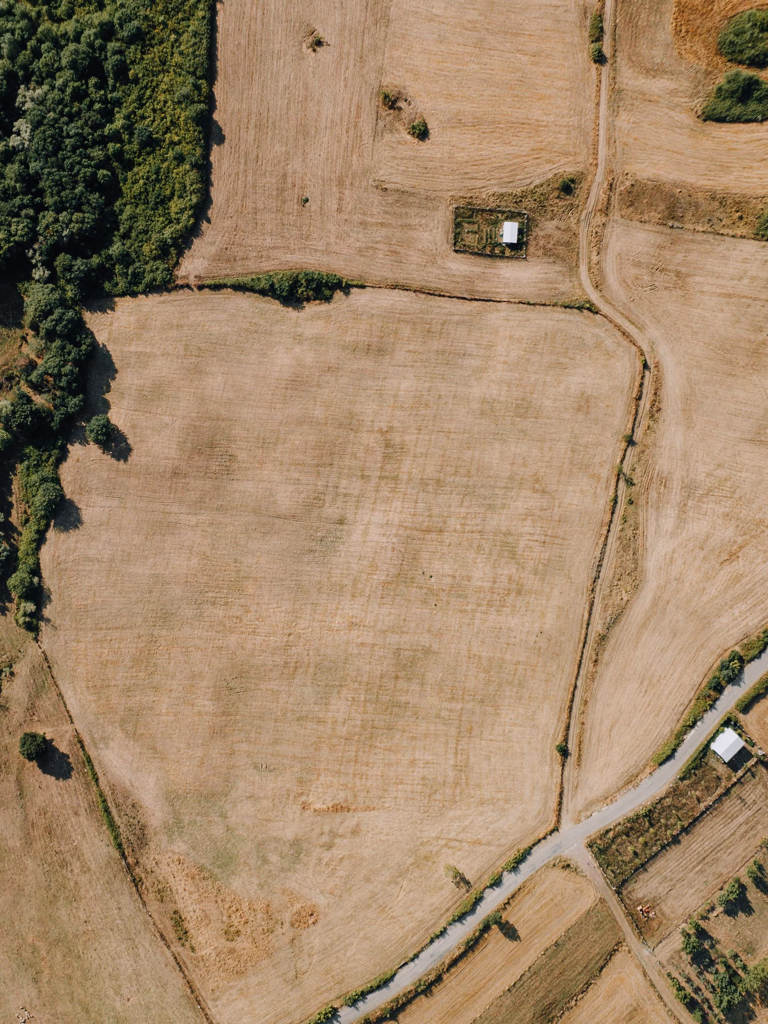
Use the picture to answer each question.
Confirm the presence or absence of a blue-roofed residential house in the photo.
No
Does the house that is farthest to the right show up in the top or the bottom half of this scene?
bottom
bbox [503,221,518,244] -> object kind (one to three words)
house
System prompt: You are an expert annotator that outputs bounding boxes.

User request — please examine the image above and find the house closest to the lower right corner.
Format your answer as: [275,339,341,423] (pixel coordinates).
[709,726,745,761]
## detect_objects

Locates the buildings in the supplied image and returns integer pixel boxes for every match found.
[503,221,518,244]
[709,726,745,761]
